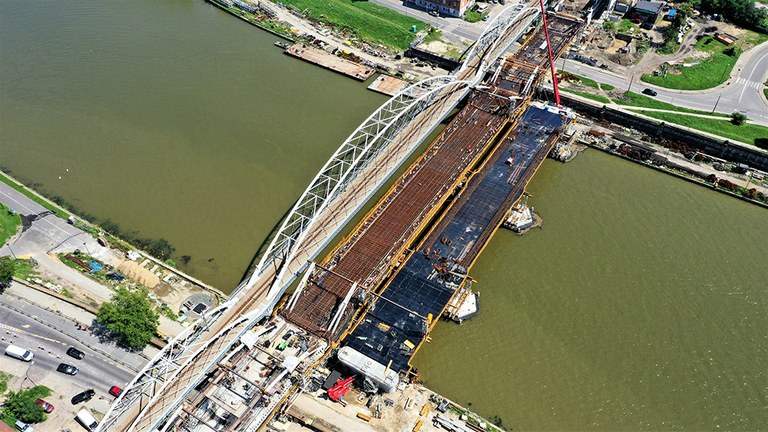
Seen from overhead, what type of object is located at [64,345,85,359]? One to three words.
car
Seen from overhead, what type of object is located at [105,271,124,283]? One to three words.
vehicle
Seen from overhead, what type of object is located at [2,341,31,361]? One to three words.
vehicle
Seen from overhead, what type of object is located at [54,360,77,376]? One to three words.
car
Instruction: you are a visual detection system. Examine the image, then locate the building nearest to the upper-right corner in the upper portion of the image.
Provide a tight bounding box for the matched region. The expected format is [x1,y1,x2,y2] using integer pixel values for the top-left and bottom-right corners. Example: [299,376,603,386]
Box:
[633,1,664,22]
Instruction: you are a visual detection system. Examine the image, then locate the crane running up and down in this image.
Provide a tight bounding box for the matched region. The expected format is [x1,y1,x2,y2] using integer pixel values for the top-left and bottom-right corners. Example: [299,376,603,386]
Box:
[532,0,578,117]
